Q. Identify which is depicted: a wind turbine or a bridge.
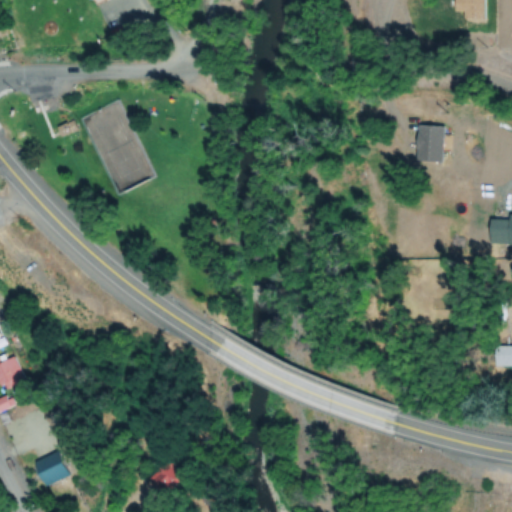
bridge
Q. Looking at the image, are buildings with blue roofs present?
Yes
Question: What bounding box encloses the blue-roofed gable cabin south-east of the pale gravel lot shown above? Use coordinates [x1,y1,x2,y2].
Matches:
[36,451,70,485]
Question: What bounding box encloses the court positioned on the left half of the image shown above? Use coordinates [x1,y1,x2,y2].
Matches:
[82,100,157,193]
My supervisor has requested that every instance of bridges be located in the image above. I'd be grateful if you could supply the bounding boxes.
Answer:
[214,332,401,436]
